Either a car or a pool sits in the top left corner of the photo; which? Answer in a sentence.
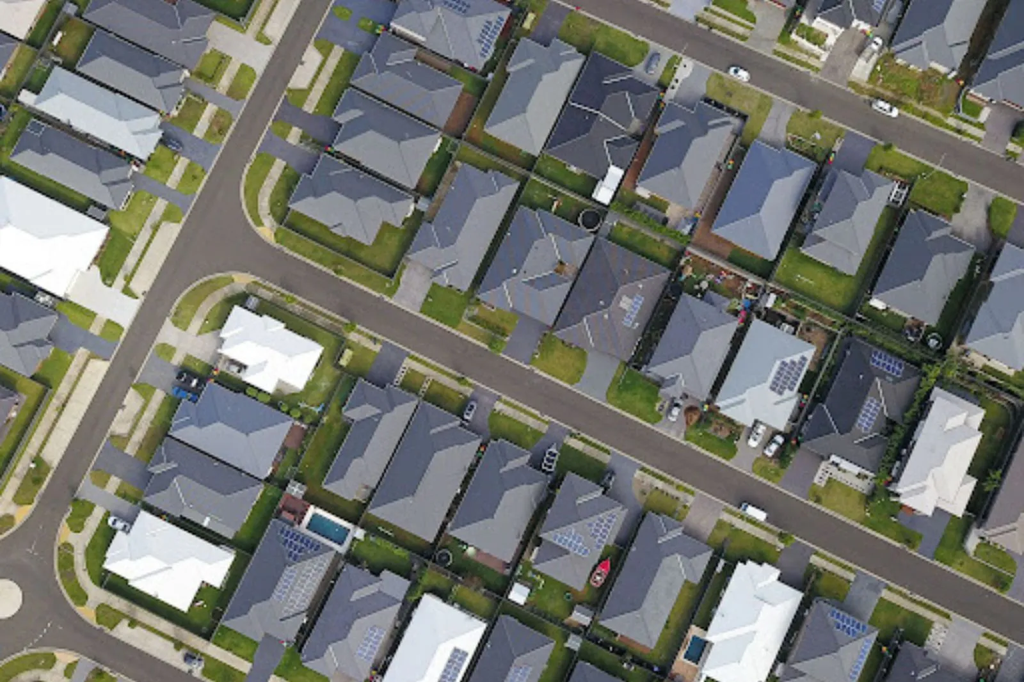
There is a car in the top left corner of the photo.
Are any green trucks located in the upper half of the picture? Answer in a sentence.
No, there is no green truck in the upper half of the picture.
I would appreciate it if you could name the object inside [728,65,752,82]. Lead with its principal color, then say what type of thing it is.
white car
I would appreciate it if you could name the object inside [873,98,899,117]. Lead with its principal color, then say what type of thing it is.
white car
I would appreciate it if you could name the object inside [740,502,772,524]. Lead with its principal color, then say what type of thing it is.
white truck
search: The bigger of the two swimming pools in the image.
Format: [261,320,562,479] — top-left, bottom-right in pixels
[299,505,356,554]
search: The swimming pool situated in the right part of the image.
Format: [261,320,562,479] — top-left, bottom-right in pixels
[681,632,711,668]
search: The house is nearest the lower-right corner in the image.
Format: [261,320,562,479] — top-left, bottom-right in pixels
[880,642,977,682]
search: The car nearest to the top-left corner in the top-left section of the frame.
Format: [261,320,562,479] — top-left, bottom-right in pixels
[162,133,184,152]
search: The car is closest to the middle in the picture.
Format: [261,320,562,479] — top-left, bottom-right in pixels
[462,399,478,423]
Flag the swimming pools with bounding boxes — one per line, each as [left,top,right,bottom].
[299,505,356,554]
[681,632,711,668]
